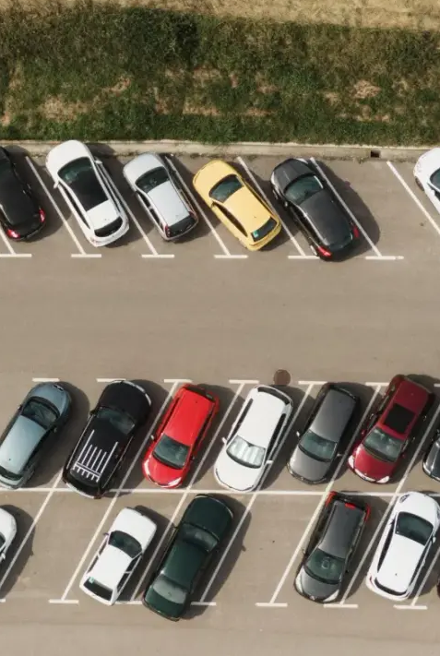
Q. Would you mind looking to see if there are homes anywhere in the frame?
No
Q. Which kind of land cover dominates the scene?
paved ground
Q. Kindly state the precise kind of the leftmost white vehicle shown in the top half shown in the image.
car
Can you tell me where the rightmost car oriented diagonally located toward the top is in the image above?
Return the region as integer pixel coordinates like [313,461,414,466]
[270,159,357,261]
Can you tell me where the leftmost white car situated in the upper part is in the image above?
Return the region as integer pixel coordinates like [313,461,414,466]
[48,140,130,247]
